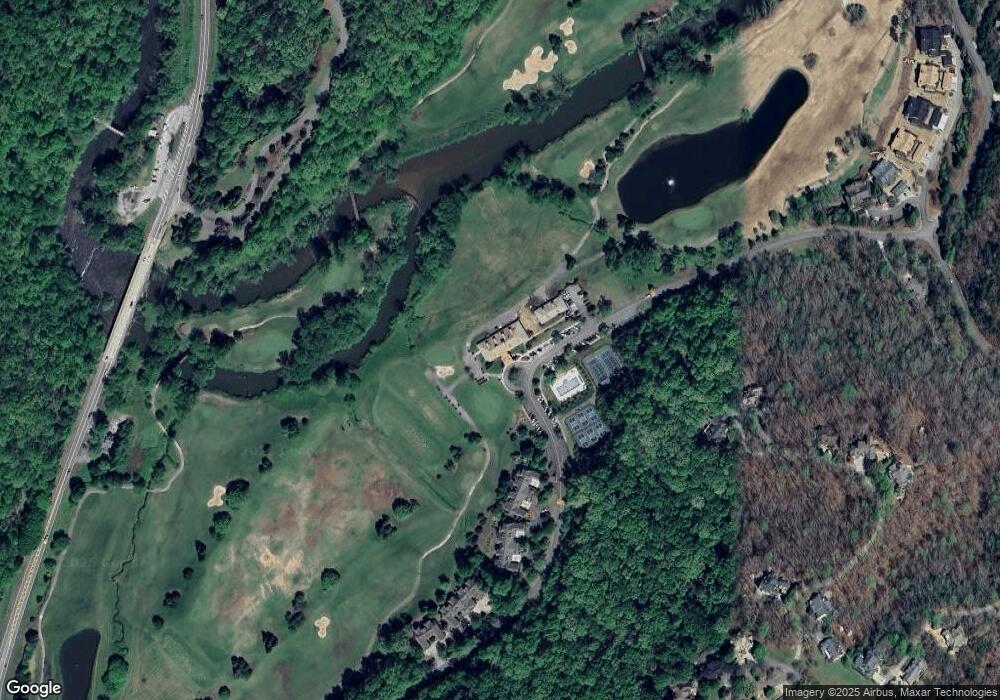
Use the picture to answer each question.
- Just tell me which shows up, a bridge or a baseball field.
bridge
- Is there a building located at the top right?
Yes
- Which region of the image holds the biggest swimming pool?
center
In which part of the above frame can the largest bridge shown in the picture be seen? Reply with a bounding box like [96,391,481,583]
[106,226,165,348]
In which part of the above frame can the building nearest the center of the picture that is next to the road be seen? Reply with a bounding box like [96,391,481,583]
[477,320,530,368]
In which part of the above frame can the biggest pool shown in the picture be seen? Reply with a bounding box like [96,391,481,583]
[552,367,586,402]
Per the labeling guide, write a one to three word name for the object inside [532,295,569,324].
building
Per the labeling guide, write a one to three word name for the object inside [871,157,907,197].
house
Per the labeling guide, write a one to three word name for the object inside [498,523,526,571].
house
